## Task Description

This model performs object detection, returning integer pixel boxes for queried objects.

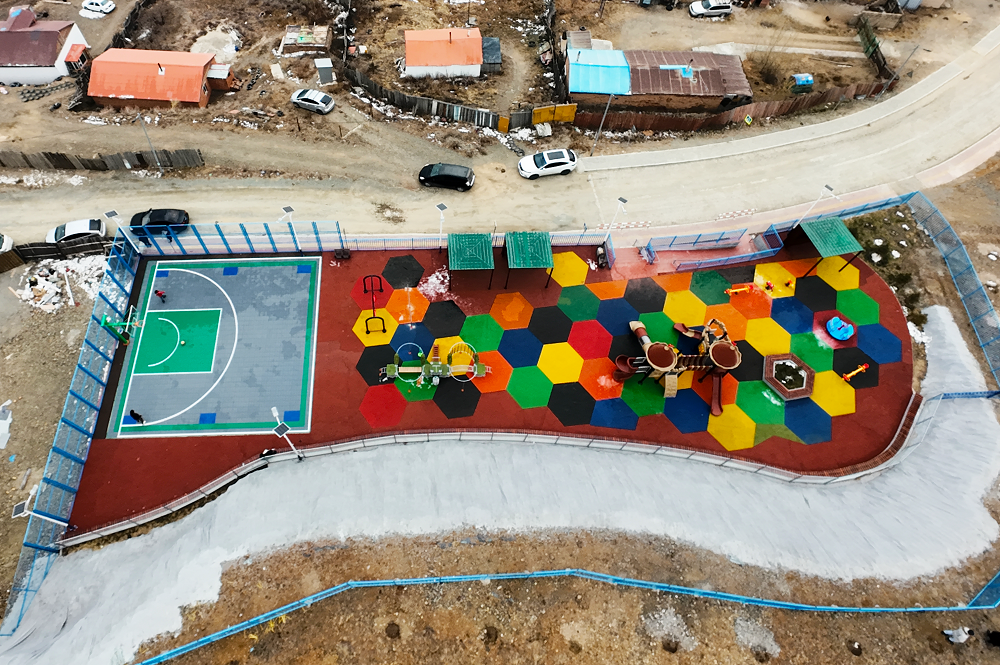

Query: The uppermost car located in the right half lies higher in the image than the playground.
[688,0,733,23]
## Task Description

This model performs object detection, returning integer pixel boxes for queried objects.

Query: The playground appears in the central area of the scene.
[63,228,922,538]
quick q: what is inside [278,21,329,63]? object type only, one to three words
shed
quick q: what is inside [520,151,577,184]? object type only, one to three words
car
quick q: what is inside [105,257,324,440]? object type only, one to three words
basketball court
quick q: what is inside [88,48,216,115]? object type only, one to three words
house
